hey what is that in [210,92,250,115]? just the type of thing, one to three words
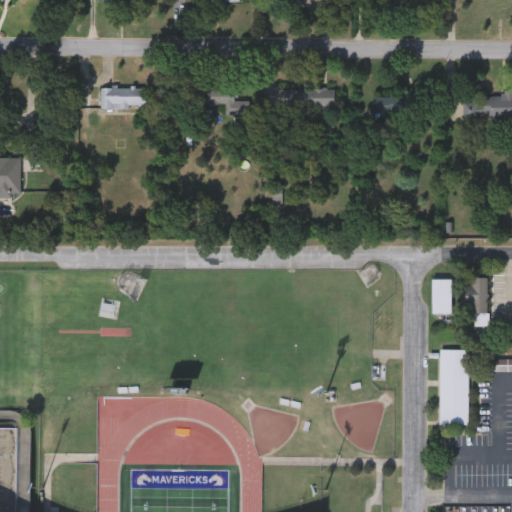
house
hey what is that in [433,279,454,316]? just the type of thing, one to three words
building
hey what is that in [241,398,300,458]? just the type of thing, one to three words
baseball field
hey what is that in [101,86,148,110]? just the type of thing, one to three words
house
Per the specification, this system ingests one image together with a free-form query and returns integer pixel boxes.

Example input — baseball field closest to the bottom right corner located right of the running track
[333,394,394,453]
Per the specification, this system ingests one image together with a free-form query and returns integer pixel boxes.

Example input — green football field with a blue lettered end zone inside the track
[122,464,240,512]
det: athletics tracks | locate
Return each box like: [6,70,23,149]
[100,396,262,512]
